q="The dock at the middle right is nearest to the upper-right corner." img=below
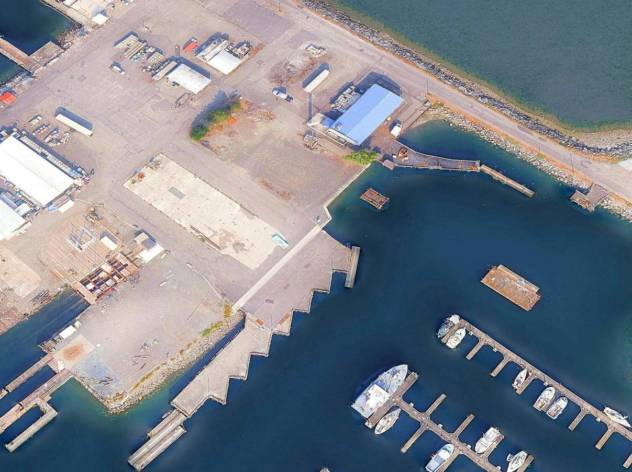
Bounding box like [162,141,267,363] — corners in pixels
[570,184,610,211]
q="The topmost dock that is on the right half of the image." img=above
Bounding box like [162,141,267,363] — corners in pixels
[376,140,479,172]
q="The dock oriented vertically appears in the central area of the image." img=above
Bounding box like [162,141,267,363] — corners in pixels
[345,246,361,288]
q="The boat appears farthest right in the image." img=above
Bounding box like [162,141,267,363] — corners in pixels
[603,407,631,428]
